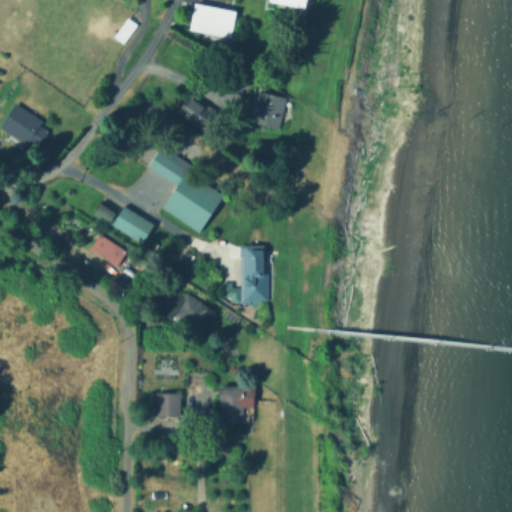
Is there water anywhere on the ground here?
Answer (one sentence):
Yes, water shows up in the scene.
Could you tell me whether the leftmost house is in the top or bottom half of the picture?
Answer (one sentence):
Seen from above, the leftmost house lies in the top half of the view.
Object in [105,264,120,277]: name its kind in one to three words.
vehicle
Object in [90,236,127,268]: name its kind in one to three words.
house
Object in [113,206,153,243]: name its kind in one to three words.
house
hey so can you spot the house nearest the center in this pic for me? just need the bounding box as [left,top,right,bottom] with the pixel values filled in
[226,245,270,308]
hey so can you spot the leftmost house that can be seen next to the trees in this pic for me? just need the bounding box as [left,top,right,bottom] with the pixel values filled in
[1,104,48,146]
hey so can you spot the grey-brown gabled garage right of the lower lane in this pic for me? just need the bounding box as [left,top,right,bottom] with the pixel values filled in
[156,394,182,418]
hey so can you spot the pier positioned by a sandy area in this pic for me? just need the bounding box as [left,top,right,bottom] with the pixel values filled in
[288,326,512,352]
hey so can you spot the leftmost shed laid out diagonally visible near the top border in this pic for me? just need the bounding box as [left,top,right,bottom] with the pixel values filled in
[114,18,138,44]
